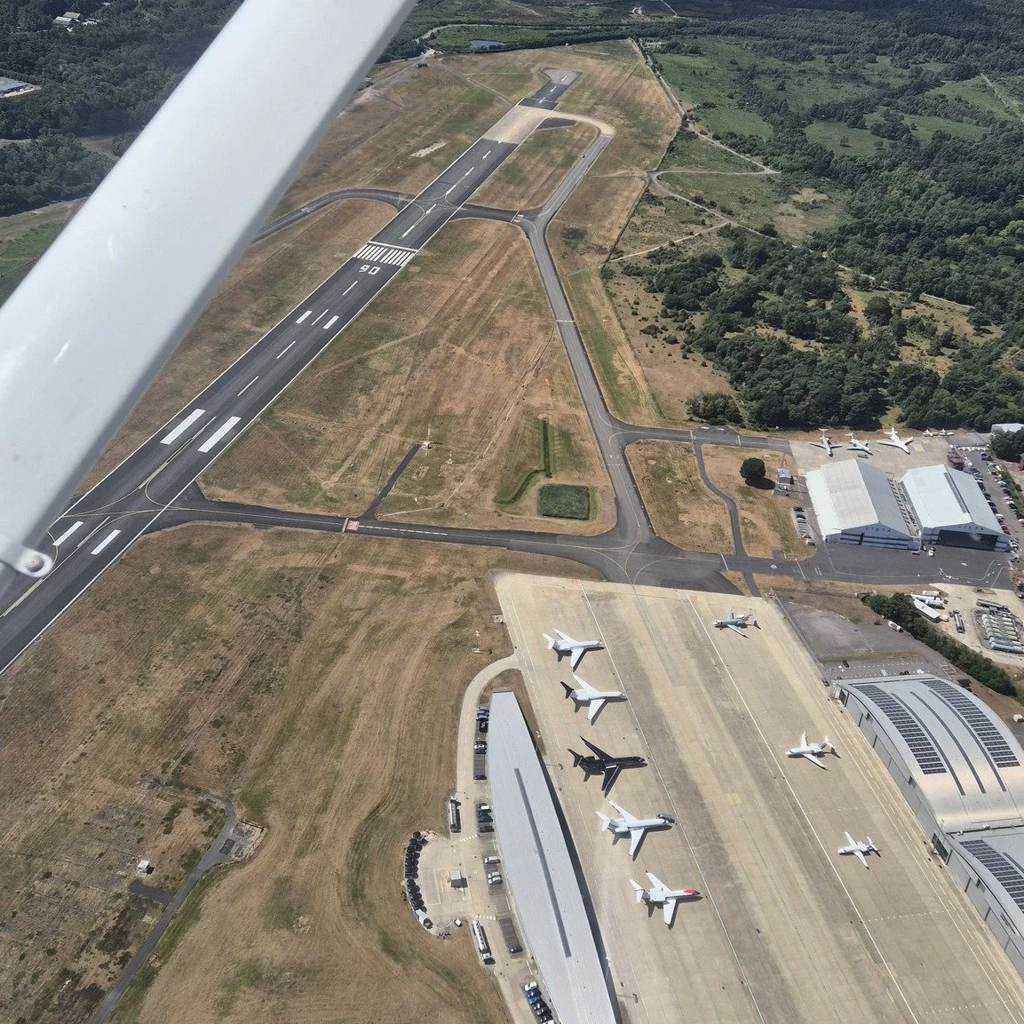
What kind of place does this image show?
airport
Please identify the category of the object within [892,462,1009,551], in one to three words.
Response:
hangar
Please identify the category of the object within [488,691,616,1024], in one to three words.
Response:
building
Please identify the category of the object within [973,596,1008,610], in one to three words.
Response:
vehicle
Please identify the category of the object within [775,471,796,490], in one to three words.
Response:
building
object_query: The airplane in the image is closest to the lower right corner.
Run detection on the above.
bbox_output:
[838,835,881,867]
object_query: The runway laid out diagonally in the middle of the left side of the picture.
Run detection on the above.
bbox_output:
[0,138,525,679]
